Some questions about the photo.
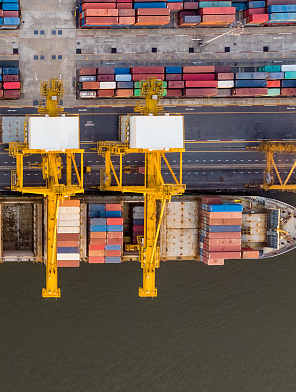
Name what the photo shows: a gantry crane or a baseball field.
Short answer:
gantry crane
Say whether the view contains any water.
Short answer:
Yes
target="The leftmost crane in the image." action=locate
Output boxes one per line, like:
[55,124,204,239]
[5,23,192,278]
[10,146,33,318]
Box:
[2,78,86,299]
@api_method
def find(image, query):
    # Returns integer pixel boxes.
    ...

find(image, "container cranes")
[2,78,86,299]
[89,78,187,299]
[242,140,296,196]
